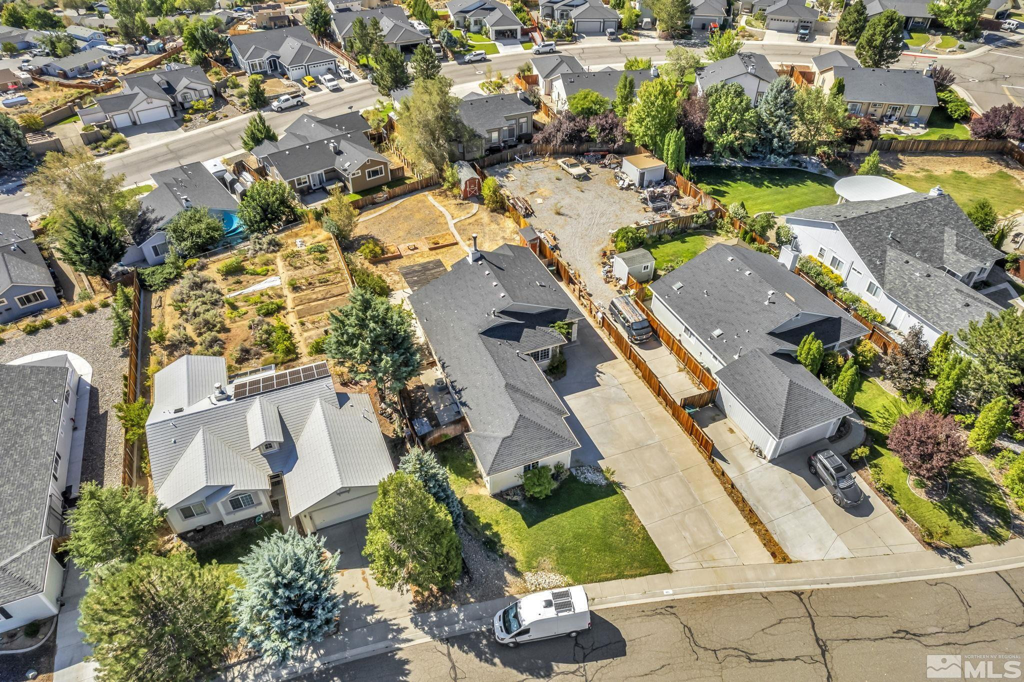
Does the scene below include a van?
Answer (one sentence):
Yes, a van is visible in the scene.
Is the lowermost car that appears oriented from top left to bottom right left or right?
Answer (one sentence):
It is on the right.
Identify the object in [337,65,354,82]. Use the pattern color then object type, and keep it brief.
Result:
white car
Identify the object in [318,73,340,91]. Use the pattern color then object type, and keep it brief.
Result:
white vehicle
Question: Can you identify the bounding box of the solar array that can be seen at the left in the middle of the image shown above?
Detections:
[221,359,330,400]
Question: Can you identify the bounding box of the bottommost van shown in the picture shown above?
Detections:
[489,582,594,648]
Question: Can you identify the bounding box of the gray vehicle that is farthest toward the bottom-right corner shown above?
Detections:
[810,450,868,511]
